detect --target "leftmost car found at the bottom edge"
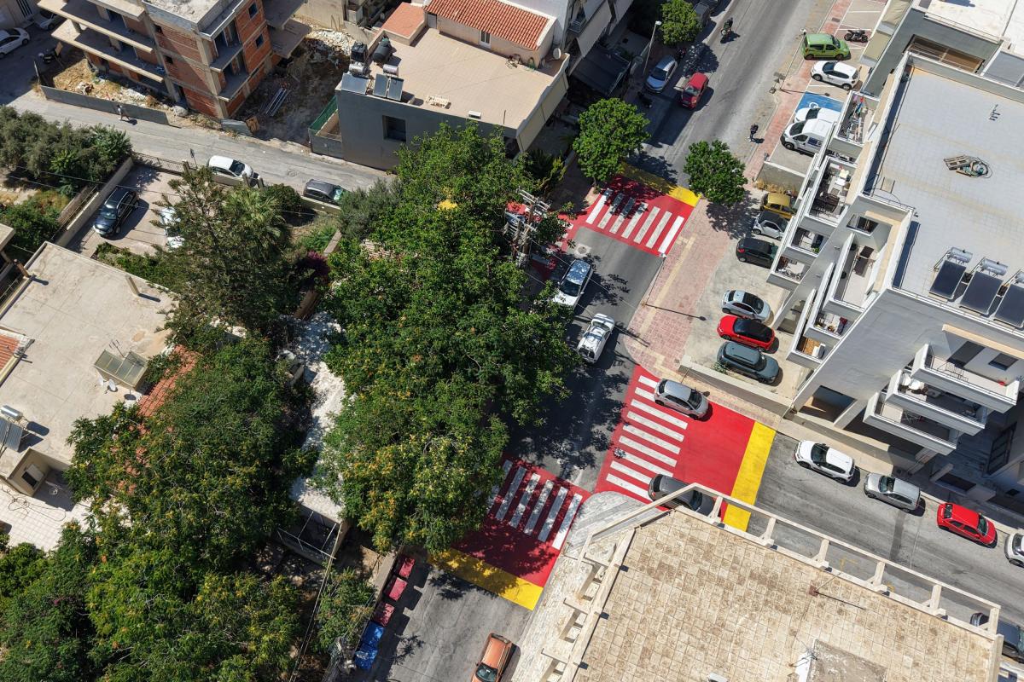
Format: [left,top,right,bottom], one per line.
[464,627,514,682]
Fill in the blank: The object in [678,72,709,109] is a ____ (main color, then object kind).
red car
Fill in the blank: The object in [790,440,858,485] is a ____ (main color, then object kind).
white car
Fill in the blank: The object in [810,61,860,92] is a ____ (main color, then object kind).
white car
